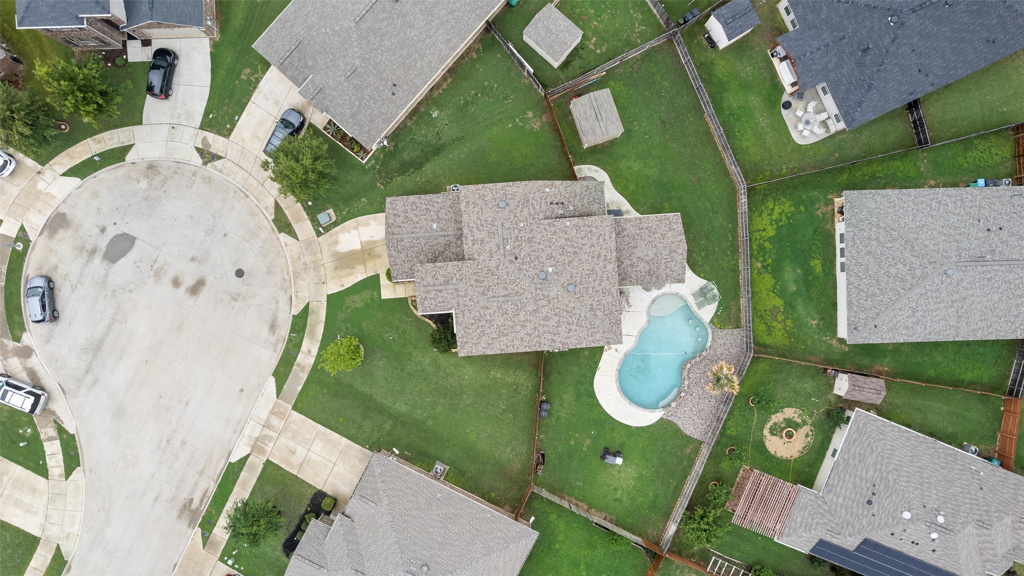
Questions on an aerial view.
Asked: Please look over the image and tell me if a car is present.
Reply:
Yes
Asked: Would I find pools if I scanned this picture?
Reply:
Yes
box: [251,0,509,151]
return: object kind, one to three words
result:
house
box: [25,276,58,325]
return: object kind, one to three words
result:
car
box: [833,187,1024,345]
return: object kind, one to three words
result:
house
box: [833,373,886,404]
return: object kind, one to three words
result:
shed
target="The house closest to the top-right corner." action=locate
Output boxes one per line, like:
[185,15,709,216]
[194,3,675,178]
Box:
[772,0,1024,132]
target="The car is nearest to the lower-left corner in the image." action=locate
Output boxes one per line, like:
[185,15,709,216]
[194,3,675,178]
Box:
[0,374,45,412]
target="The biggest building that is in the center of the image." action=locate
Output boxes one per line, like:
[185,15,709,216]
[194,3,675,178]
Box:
[385,180,687,356]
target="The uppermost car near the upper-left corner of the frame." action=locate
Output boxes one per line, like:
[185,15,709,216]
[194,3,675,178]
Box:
[145,48,177,99]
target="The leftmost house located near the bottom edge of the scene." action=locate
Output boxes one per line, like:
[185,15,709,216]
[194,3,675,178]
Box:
[283,447,540,576]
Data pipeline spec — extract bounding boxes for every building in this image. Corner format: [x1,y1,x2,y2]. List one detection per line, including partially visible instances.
[833,373,886,404]
[251,0,509,151]
[705,0,760,49]
[771,407,1024,576]
[385,180,687,356]
[283,447,540,576]
[523,3,583,68]
[15,0,217,49]
[571,89,624,147]
[833,187,1024,345]
[772,0,1024,132]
